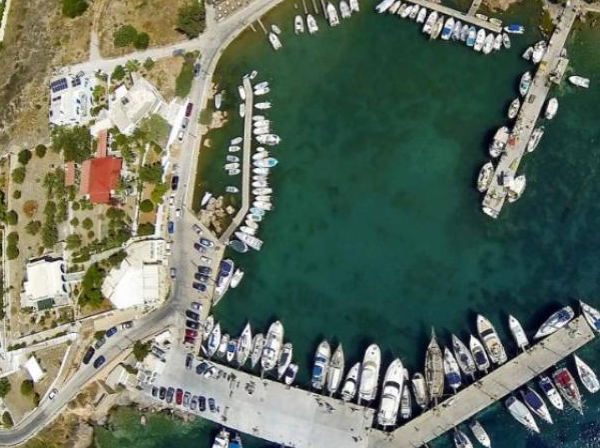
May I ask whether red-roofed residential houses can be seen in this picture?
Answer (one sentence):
Yes, the image includes a red-roofed residential house.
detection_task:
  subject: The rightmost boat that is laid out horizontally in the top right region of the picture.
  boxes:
[569,76,591,89]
